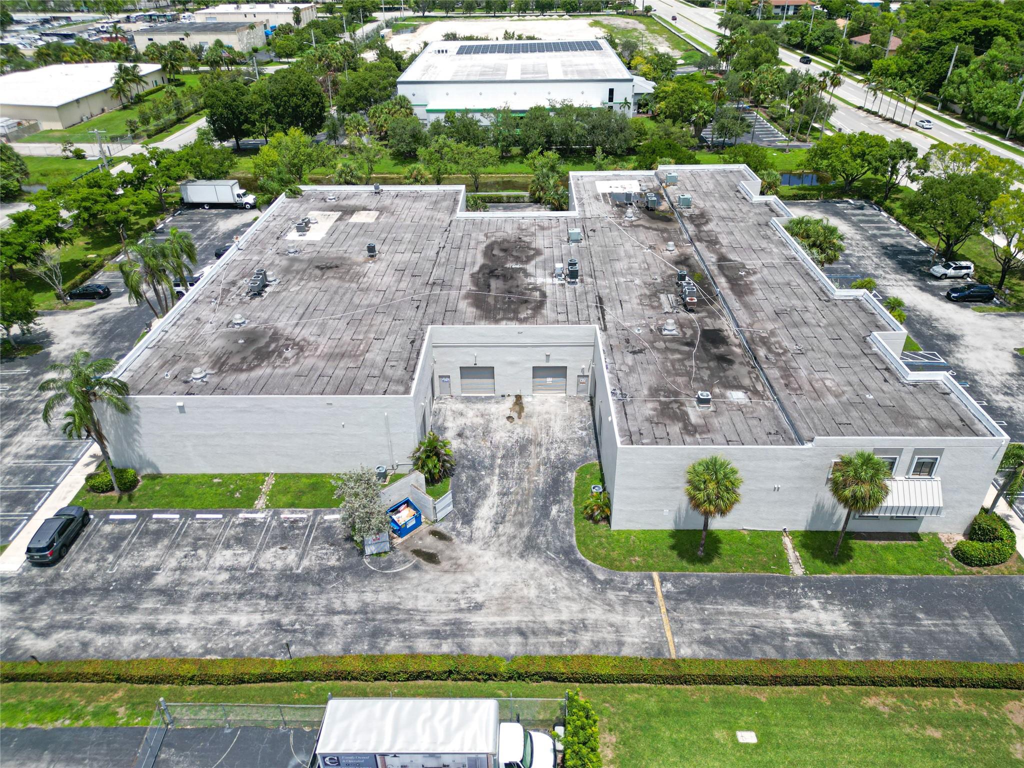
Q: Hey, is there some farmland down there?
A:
No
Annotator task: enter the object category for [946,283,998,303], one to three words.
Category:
car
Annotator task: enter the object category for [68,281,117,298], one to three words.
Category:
car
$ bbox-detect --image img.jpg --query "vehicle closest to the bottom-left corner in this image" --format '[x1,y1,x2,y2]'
[32,503,101,559]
